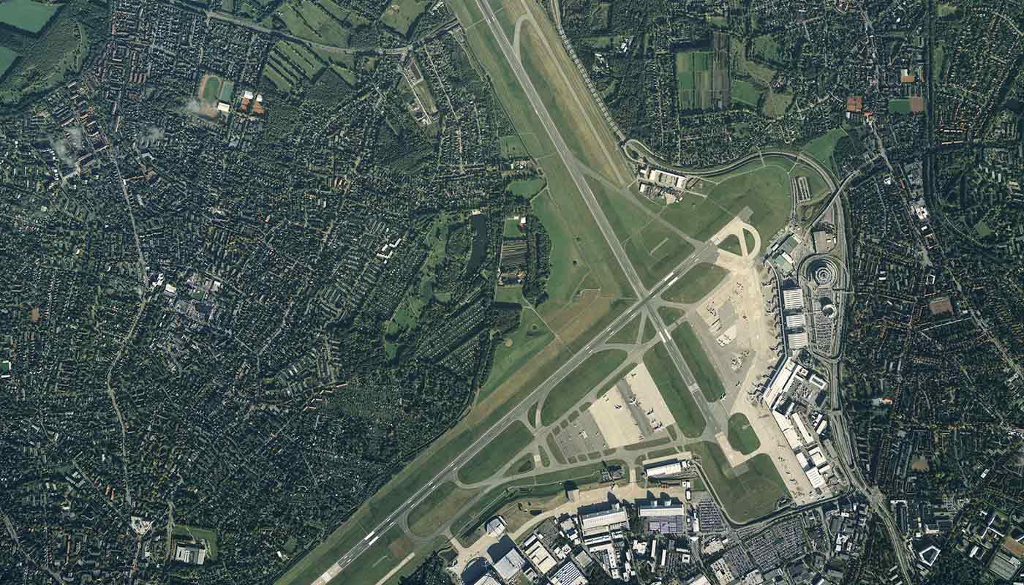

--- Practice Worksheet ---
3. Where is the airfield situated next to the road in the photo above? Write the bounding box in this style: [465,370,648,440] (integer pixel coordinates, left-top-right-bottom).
[273,0,852,585]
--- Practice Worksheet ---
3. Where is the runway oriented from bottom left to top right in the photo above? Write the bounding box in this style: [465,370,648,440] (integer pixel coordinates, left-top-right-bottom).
[310,202,755,585]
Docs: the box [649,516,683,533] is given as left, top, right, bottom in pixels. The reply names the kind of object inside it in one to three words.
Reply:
hangar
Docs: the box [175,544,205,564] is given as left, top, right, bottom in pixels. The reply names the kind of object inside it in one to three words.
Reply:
building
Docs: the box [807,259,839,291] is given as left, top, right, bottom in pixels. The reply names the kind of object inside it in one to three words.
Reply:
building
